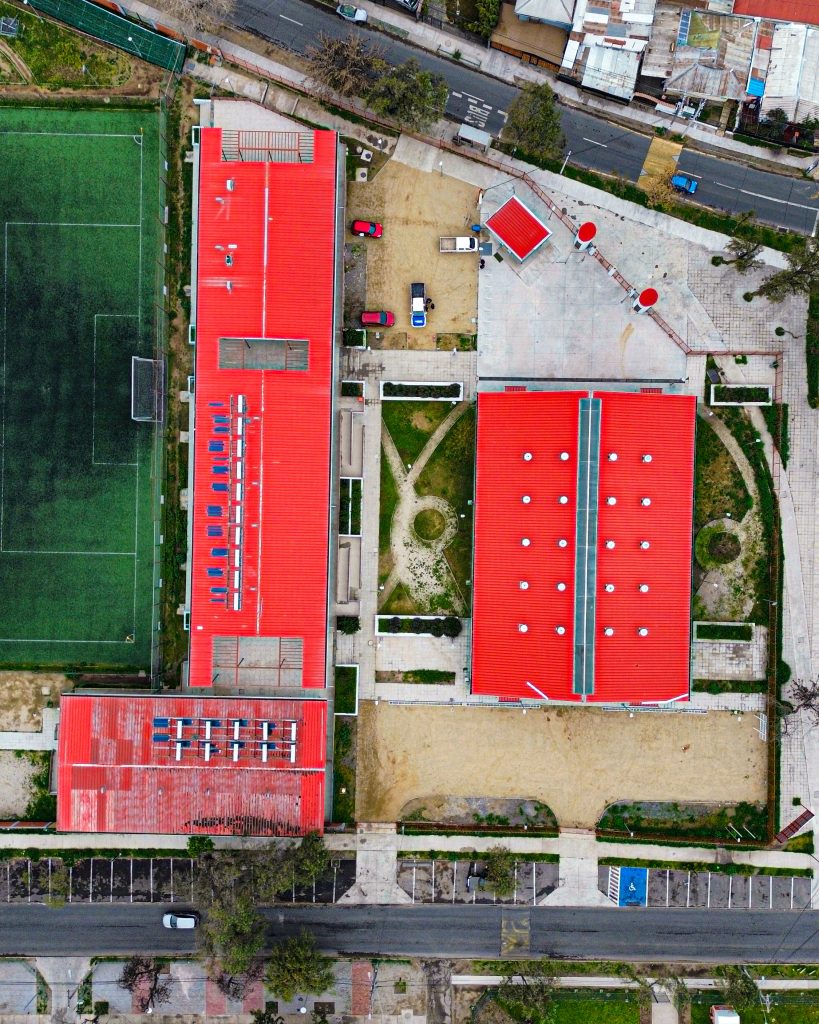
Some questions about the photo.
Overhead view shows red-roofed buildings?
Yes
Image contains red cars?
Yes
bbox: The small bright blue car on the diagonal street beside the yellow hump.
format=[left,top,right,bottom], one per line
[669,176,698,196]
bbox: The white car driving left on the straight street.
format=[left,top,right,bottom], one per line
[164,910,200,929]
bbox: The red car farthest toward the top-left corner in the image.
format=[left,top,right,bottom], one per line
[351,220,383,239]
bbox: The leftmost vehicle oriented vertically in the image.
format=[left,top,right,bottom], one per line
[410,283,427,327]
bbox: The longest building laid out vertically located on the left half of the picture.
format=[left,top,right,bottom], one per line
[187,127,339,690]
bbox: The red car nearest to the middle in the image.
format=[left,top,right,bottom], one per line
[361,309,395,327]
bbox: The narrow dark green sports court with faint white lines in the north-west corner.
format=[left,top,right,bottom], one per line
[21,0,185,71]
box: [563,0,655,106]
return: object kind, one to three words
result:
house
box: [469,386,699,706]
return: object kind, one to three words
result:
building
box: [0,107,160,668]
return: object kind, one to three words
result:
soccer field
